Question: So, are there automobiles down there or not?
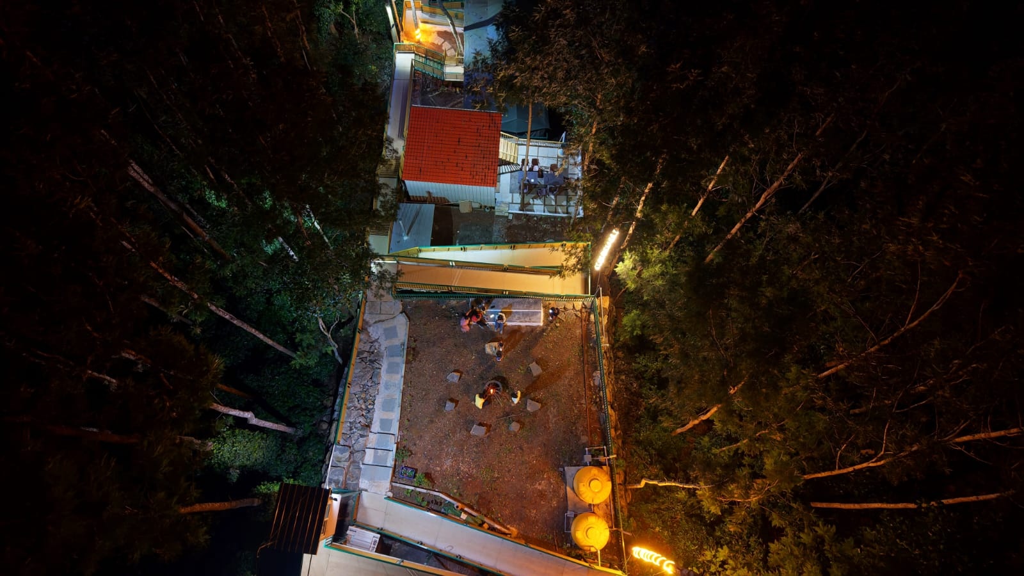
No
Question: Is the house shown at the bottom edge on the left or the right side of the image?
left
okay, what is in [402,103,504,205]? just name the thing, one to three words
building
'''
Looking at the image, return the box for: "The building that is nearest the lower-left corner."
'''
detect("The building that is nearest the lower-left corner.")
[256,483,342,559]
